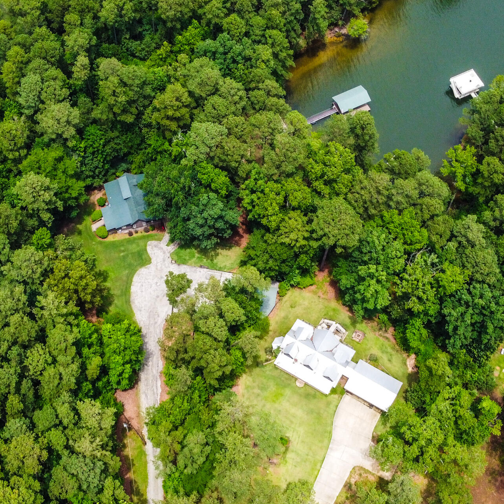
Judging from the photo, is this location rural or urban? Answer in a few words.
rural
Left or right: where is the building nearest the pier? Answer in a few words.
right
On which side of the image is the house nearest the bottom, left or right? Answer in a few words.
right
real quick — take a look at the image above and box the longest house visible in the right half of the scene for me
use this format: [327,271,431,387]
[272,317,403,412]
